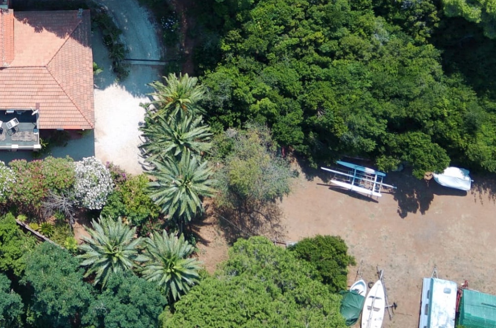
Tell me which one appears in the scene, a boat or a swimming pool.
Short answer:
boat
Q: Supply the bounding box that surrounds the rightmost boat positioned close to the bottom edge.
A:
[363,280,388,328]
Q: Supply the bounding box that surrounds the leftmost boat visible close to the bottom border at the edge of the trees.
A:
[341,279,368,327]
